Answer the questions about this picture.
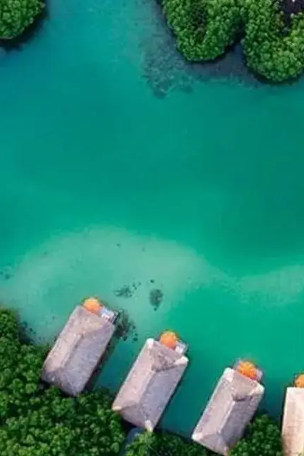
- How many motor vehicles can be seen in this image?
none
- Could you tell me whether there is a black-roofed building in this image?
No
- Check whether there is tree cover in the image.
Yes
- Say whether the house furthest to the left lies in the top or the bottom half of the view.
bottom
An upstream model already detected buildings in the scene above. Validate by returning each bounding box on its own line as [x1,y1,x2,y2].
[44,302,118,396]
[192,362,264,456]
[113,336,189,431]
[284,376,304,456]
